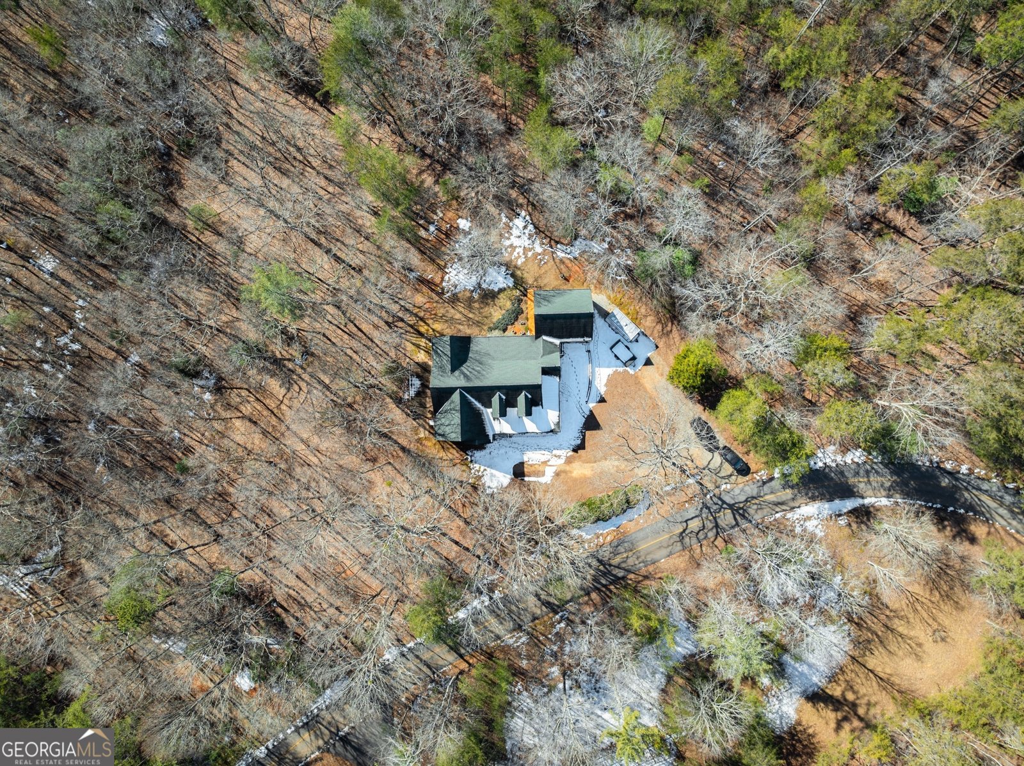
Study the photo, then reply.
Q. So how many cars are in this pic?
two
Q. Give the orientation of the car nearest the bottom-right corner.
on a diagonal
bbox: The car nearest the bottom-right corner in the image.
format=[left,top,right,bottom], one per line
[721,445,752,479]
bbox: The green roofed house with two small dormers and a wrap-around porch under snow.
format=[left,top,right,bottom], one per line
[430,335,560,442]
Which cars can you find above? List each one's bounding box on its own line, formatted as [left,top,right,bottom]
[721,445,752,479]
[692,418,721,454]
